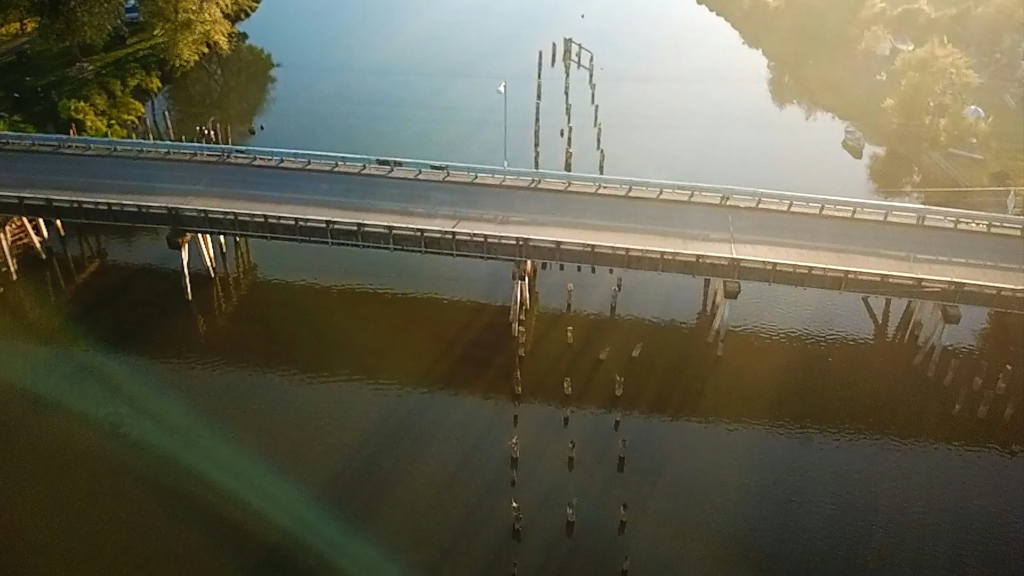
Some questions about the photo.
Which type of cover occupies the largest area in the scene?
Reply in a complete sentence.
The bulk of the photo consists of water.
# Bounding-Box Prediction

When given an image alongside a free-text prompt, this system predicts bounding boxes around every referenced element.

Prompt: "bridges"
[0,132,1024,378]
